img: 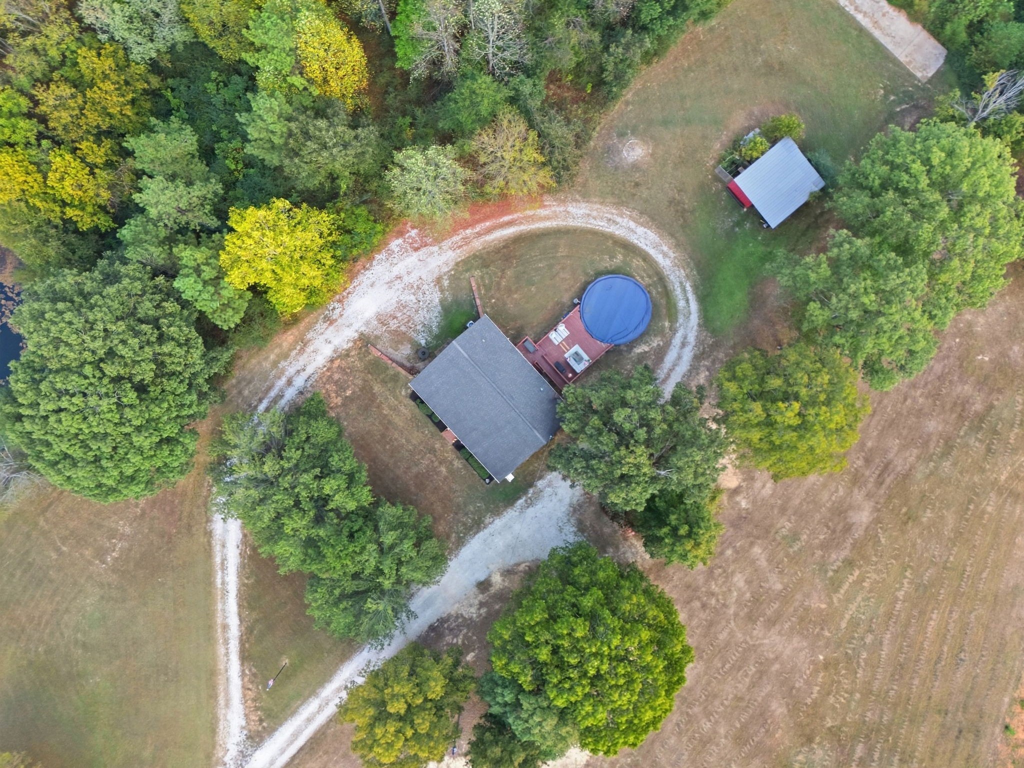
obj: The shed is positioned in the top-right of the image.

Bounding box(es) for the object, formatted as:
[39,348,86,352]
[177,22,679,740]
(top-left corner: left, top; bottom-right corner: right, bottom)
[732,136,823,232]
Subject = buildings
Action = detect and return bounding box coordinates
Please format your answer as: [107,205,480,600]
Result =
[409,313,572,483]
[732,136,823,232]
